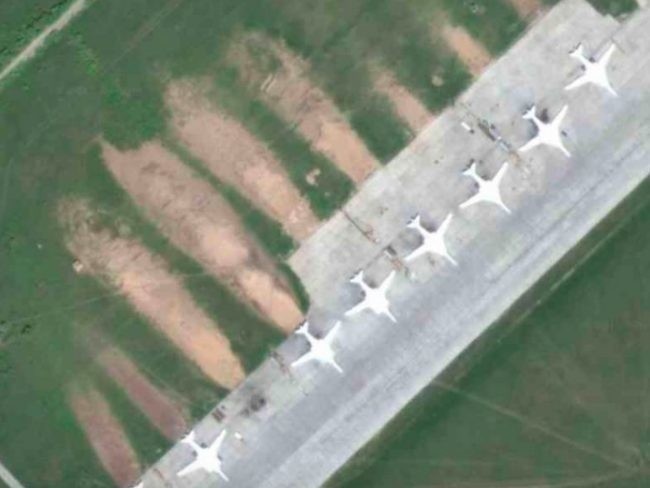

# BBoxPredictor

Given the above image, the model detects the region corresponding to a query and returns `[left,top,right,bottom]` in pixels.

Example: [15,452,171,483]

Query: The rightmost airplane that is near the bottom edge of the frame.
[176,428,228,481]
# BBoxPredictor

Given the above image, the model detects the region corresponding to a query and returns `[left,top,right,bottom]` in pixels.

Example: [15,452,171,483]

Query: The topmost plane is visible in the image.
[566,44,618,96]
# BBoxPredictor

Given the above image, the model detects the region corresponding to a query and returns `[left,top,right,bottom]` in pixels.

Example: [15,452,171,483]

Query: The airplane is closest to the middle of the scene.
[345,270,396,322]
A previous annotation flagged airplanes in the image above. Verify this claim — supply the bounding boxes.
[518,103,569,155]
[459,160,510,213]
[290,320,342,372]
[405,213,457,265]
[345,270,396,322]
[566,44,618,96]
[176,428,228,481]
